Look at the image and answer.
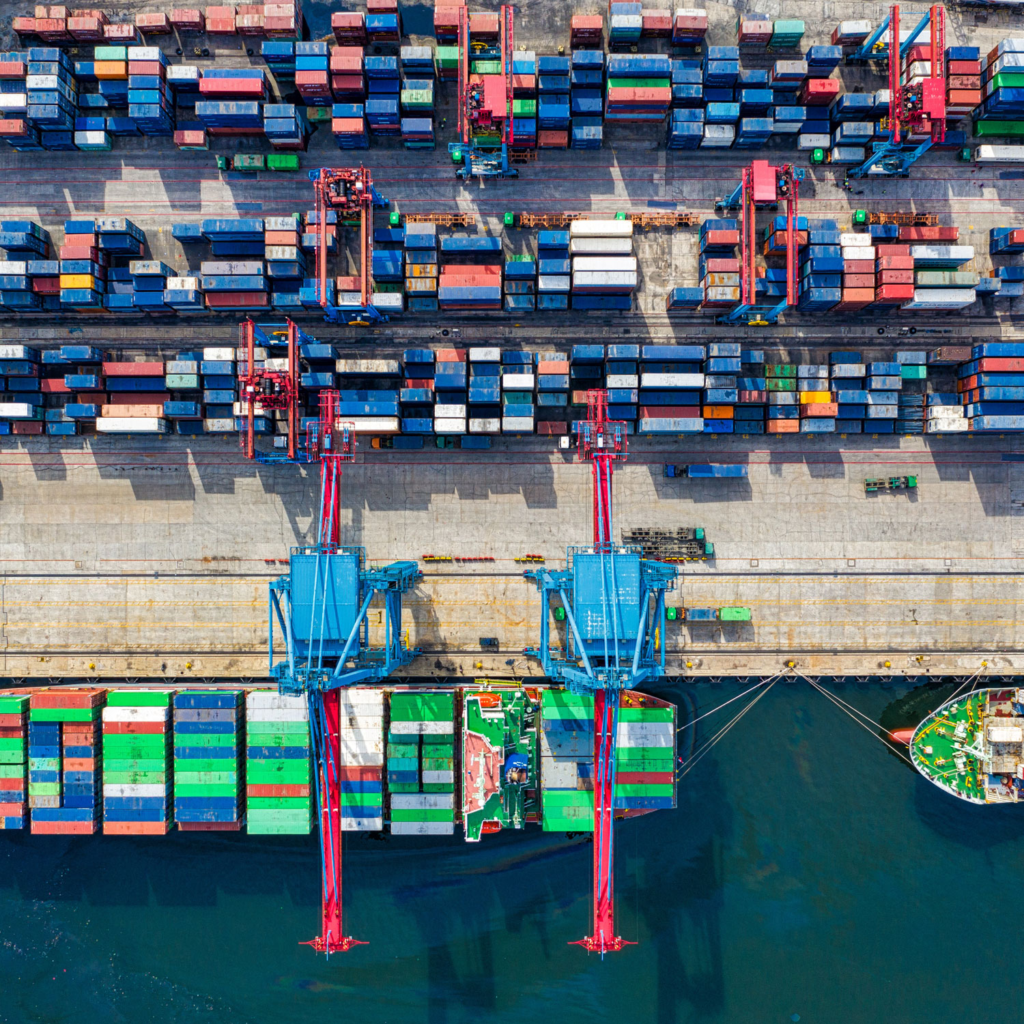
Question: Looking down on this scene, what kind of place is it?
port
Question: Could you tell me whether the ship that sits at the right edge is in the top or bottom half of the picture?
bottom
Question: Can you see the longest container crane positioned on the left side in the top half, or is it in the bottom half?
bottom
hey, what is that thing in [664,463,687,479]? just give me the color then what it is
blue vehicle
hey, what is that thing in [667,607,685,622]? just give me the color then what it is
green vehicle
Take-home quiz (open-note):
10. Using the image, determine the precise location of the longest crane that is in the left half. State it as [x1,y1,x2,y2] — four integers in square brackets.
[264,389,425,970]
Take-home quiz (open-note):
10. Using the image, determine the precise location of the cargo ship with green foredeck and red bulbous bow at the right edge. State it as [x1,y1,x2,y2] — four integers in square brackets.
[893,682,1024,804]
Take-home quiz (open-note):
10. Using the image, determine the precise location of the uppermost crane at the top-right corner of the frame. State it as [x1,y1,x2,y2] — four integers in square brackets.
[847,4,946,178]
